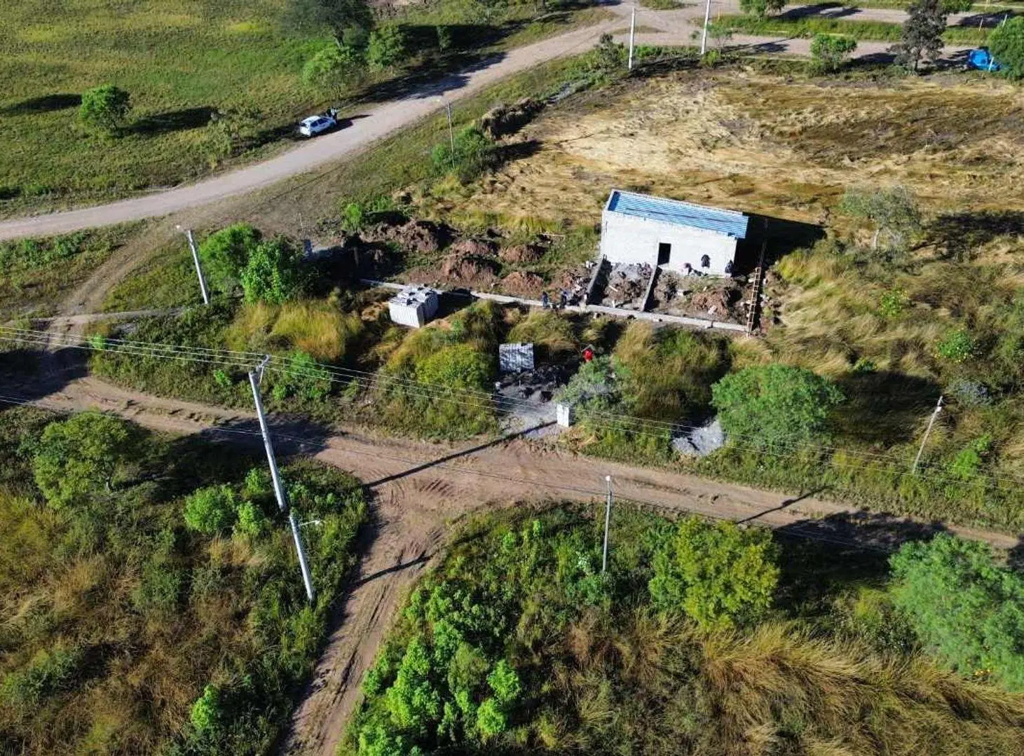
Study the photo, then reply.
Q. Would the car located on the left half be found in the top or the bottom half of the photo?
top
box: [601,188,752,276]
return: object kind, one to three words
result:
building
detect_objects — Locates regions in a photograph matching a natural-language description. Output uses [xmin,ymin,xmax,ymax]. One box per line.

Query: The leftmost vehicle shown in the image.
[300,115,336,136]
